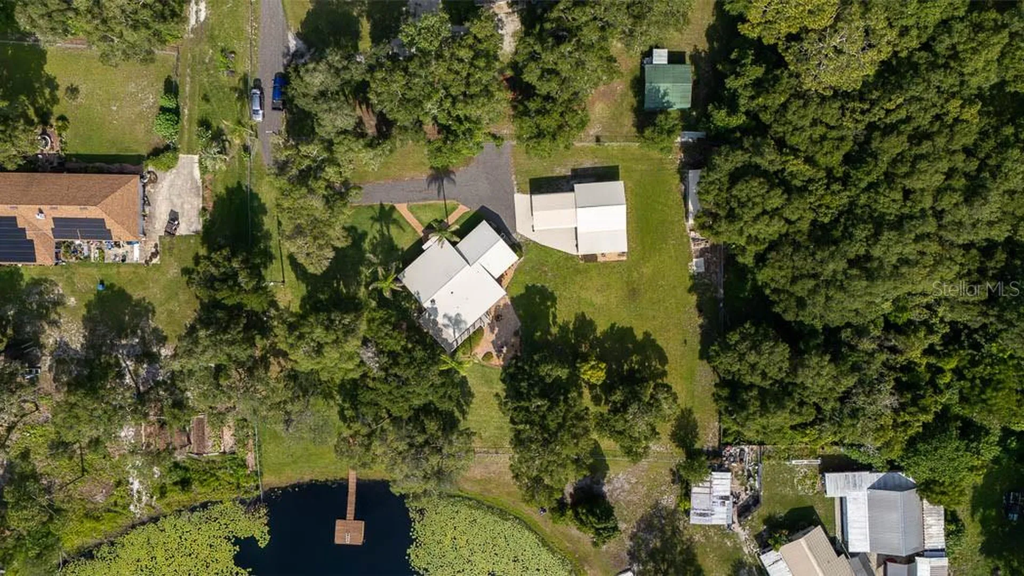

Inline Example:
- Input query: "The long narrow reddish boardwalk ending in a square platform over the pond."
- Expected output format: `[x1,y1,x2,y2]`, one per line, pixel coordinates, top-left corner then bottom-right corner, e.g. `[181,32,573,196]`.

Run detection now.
[334,469,365,545]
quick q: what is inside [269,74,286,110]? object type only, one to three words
vehicle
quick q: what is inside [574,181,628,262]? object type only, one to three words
building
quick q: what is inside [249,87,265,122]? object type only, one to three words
car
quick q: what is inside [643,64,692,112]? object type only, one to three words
shed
